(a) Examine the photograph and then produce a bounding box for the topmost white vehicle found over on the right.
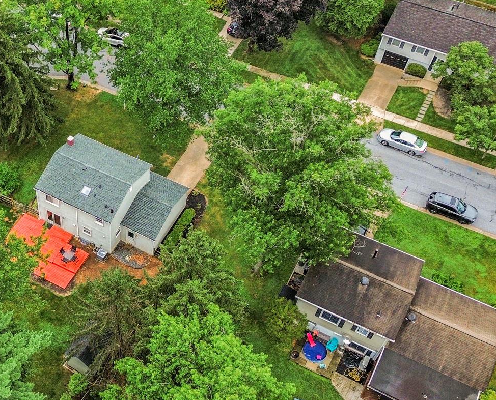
[378,127,430,156]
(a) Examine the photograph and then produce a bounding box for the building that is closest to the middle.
[118,170,190,261]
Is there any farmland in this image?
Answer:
No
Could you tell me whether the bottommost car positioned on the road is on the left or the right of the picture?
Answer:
right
